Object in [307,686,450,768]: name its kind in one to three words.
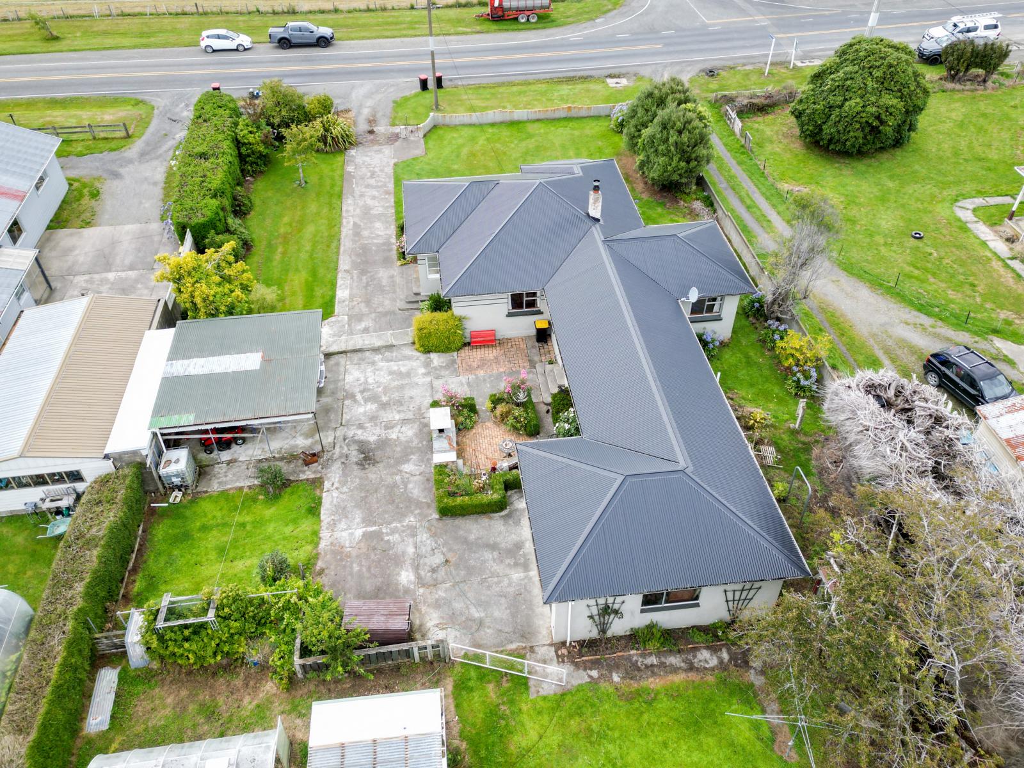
shed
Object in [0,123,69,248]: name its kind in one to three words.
house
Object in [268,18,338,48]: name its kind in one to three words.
truck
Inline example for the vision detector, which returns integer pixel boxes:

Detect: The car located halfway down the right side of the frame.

[917,341,1024,418]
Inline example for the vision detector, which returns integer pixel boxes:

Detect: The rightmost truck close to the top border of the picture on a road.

[923,13,1002,43]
